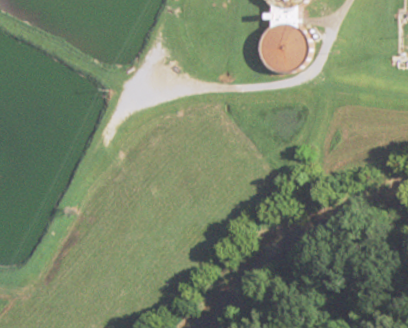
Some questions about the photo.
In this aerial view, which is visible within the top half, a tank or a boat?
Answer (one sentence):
What appears within the top half is a tank.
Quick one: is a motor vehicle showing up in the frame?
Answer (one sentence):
No, there appears to be no motor vehicle in this shot.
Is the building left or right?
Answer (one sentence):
The building is on the right side of the image.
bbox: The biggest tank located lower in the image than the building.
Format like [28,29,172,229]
[259,23,314,75]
